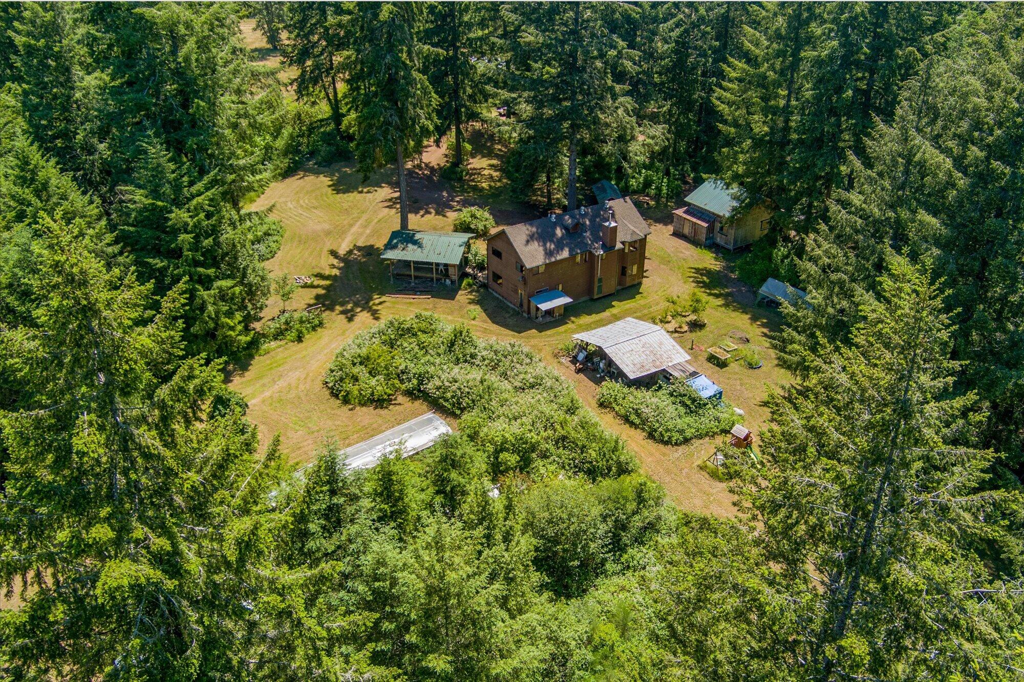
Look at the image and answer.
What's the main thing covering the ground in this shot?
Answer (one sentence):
For the most part, this view shows trees.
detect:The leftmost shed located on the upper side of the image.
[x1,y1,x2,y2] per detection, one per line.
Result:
[381,227,476,289]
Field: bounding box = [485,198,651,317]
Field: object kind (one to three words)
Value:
house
